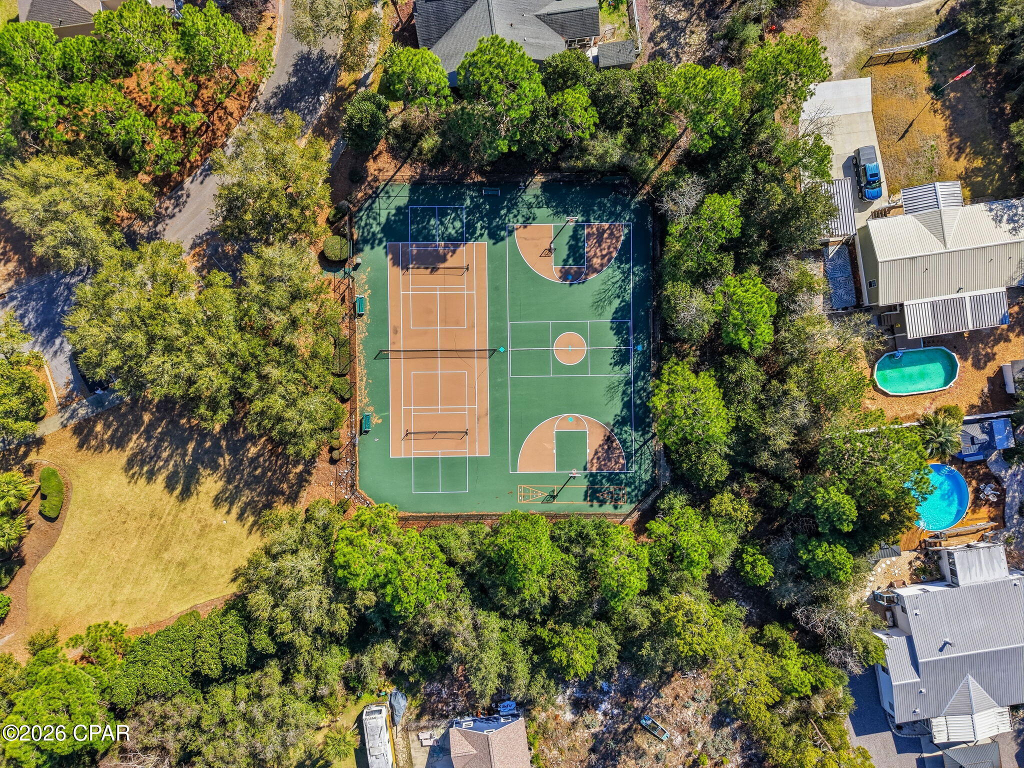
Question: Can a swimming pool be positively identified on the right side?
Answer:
Yes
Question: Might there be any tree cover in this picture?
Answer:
Yes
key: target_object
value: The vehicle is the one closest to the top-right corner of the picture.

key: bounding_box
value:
[854,147,884,204]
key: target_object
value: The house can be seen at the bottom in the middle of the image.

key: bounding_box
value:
[449,712,528,768]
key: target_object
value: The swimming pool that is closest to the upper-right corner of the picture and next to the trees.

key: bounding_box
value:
[868,346,960,395]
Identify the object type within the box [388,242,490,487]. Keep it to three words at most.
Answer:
tennis court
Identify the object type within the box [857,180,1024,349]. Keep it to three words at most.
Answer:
house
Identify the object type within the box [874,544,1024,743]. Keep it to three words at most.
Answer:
house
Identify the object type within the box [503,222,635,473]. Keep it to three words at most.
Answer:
basketball court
